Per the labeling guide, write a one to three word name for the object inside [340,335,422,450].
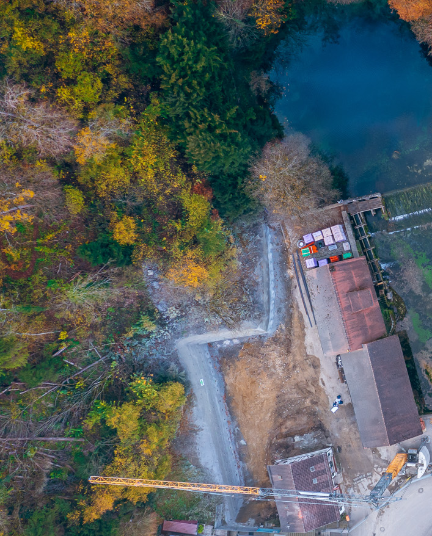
barn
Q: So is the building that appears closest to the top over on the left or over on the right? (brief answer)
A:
right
